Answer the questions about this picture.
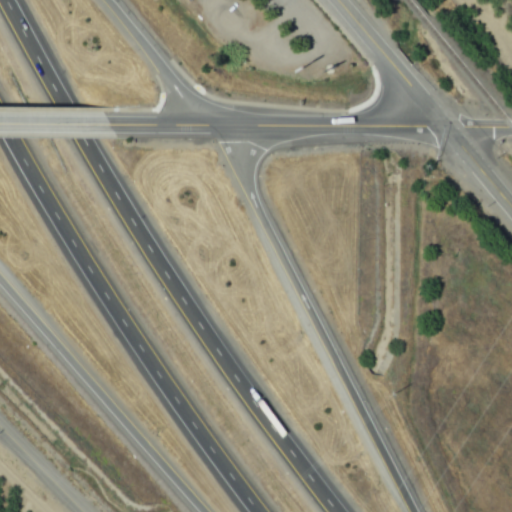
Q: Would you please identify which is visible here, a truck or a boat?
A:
truck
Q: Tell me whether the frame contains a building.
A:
No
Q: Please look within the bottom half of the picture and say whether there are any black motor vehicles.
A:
No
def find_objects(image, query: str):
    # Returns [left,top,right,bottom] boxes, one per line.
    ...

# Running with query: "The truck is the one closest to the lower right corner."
[252,388,288,438]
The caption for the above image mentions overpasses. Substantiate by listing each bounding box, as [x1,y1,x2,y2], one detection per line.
[0,106,119,138]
